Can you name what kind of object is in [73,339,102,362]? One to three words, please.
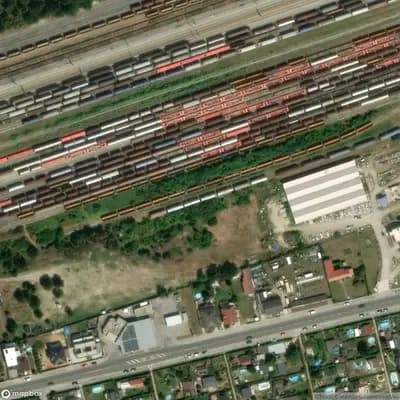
building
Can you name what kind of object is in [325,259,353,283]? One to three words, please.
house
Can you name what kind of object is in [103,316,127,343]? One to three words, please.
building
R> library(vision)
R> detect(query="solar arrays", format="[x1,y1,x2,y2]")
[123,326,136,341]
[123,341,138,352]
